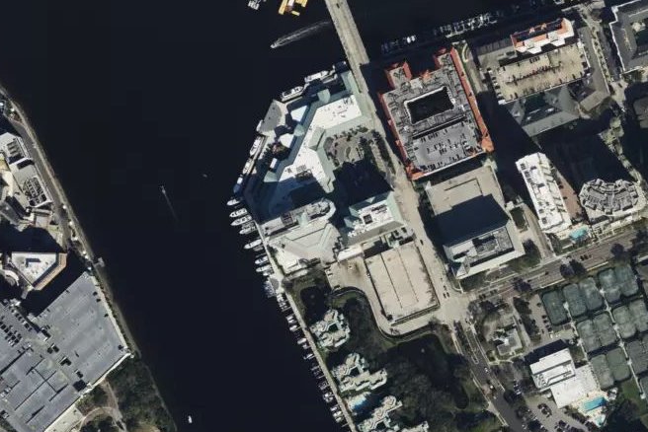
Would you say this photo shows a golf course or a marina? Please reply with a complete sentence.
What you see here is a marina.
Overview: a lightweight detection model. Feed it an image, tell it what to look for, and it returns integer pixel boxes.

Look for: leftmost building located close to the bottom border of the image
[0,271,132,432]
